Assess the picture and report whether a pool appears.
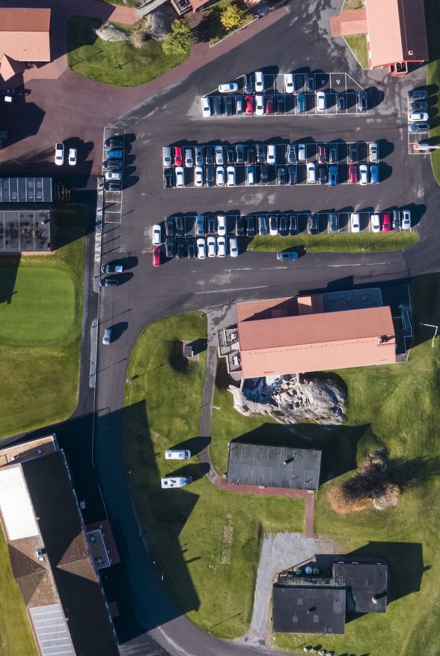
No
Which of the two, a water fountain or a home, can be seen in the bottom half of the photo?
home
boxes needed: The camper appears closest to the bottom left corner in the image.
[163,476,189,488]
